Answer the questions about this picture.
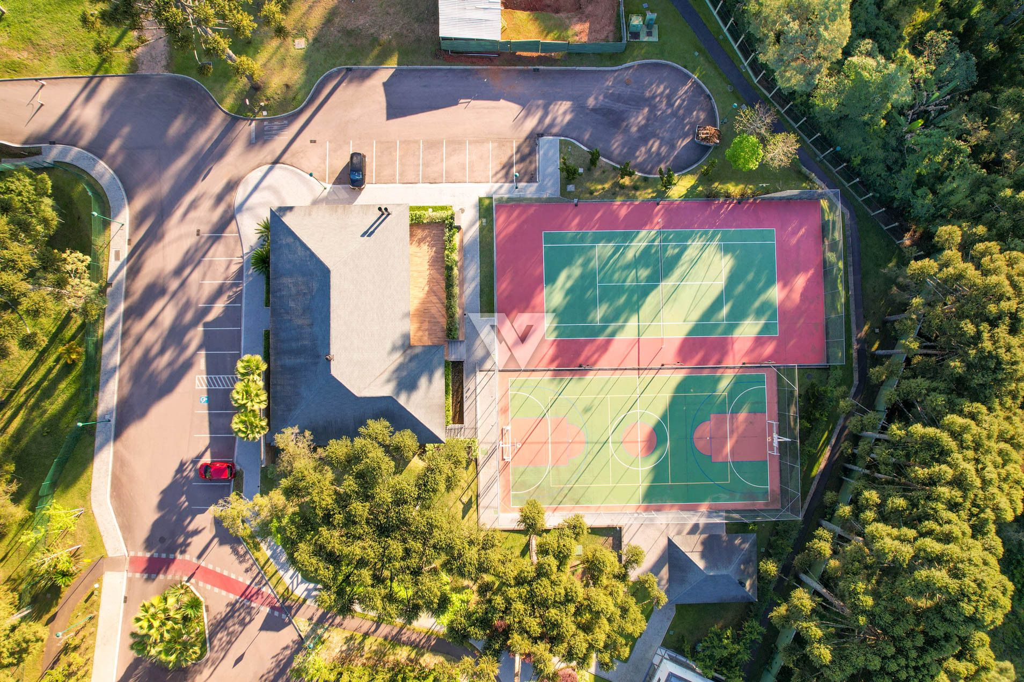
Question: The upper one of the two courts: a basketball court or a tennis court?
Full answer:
The upper one of the two courts in the image is a tennis court.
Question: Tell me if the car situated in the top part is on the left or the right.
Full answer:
It is on the left.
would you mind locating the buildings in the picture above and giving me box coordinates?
[664,530,759,605]
[438,0,503,43]
[636,641,748,682]
[269,203,446,448]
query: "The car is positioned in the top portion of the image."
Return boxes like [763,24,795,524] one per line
[346,149,367,189]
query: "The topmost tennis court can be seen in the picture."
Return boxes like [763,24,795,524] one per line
[495,199,825,369]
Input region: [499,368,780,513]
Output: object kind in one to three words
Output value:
sports court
